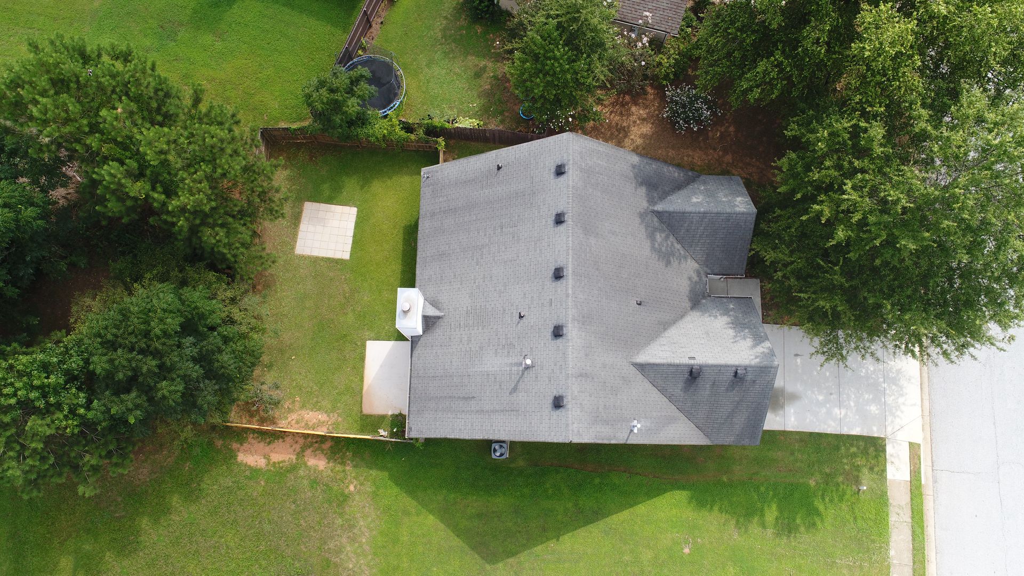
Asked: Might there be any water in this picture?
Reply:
No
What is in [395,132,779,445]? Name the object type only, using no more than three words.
house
